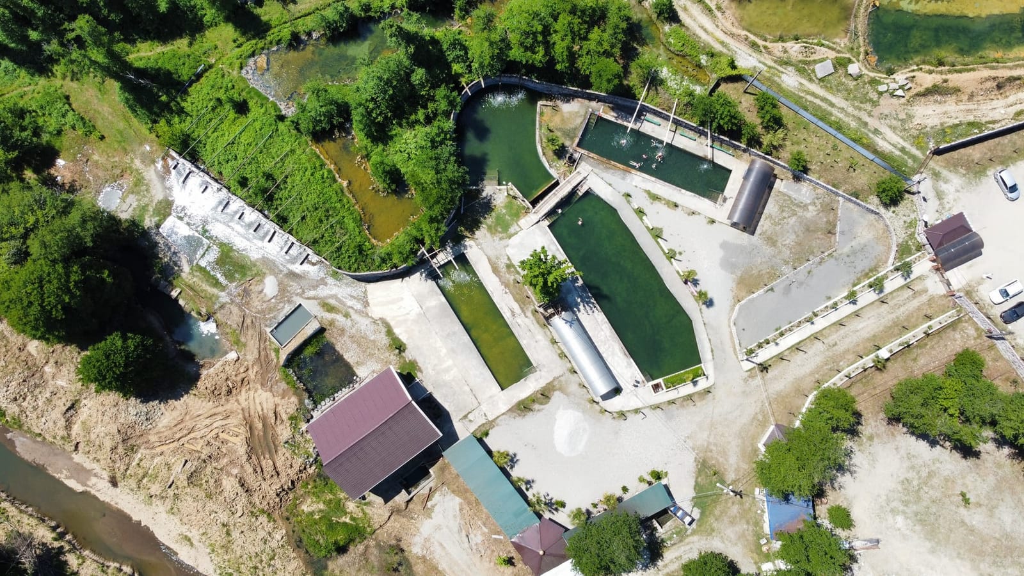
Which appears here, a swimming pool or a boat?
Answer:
swimming pool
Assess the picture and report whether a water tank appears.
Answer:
Yes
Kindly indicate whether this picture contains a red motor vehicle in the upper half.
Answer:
No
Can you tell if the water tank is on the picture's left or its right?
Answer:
left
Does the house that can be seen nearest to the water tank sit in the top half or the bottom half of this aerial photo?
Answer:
bottom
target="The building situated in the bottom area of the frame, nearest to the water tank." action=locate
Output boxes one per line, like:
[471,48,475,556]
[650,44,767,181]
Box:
[307,367,444,499]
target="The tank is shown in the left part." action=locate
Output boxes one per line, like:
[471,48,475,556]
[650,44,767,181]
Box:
[266,301,322,367]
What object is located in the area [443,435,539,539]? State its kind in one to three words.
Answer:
shed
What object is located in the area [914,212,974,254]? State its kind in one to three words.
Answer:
house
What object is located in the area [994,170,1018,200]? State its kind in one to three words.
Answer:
car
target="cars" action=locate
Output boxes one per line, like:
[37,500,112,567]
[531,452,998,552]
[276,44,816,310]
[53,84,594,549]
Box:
[988,281,1023,304]
[998,302,1024,324]
[994,170,1018,200]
